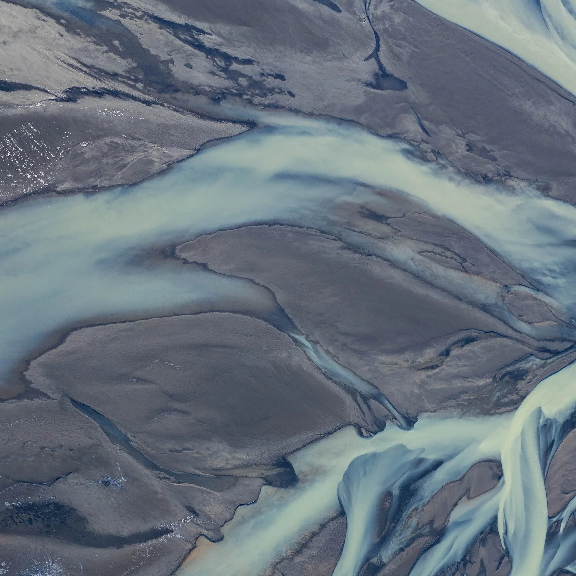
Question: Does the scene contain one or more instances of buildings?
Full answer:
No, there appears to be no building in this shot.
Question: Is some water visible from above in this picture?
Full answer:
Yes, there is water in the image.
